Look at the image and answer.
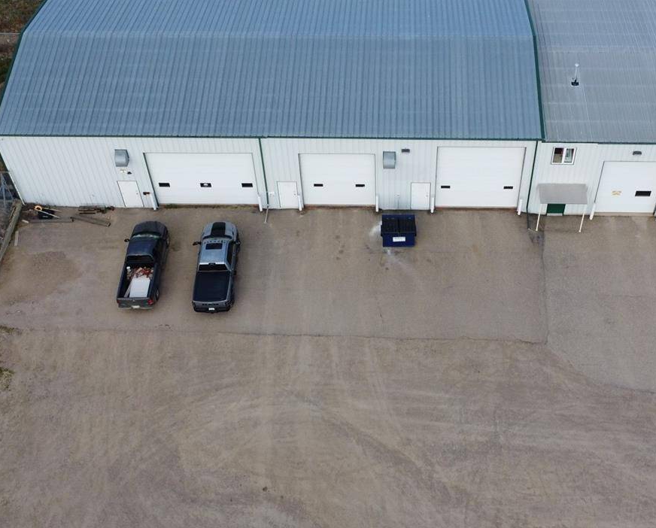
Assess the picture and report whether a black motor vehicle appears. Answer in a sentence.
Yes, there's a black motor vehicle down there.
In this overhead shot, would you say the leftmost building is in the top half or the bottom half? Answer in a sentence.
You can find the leftmost building in the top half.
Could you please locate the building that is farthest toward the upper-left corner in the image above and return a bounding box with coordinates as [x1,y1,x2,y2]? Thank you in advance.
[0,0,543,227]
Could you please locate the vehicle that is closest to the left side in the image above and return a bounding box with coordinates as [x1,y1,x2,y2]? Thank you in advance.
[113,219,170,310]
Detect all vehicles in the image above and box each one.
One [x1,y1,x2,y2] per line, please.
[113,219,170,310]
[190,220,240,313]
